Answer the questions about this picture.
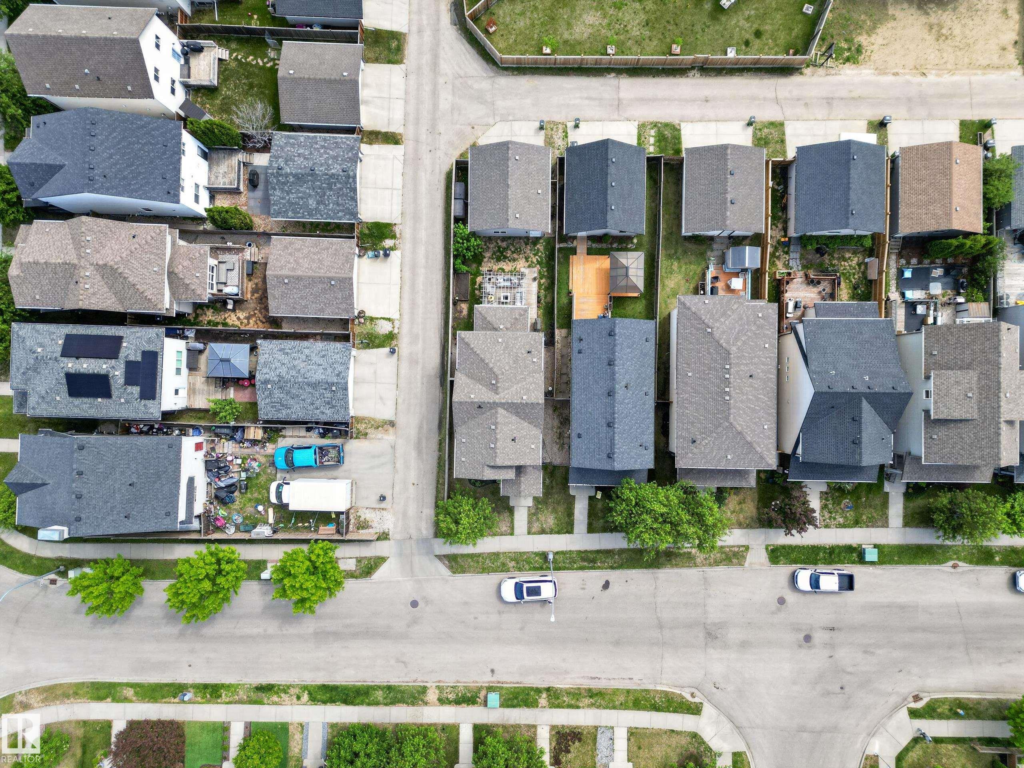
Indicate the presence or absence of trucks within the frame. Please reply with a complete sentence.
Yes, a truck can be made out from above.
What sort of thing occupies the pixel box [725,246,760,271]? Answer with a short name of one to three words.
shed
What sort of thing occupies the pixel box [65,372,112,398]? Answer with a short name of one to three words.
solar panel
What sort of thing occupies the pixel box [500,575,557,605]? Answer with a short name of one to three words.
car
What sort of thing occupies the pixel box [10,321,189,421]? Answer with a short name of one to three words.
house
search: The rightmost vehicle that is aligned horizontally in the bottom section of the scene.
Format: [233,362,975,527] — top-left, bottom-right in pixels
[792,567,857,596]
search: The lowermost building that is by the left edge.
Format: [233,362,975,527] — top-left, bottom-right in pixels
[4,428,209,541]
